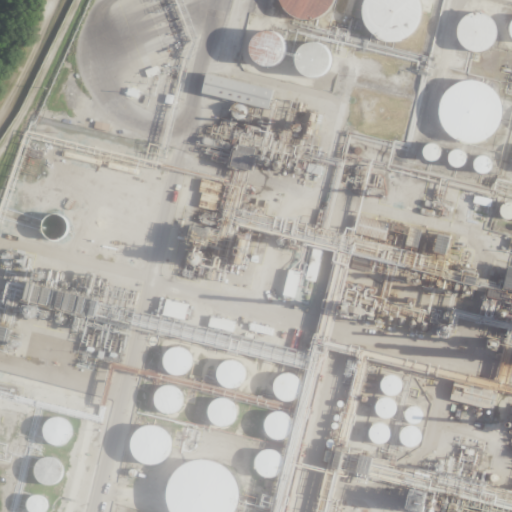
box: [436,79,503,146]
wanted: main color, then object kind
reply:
white storage tank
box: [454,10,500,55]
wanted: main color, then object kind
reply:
white storage tank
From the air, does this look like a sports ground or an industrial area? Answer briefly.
industrial area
